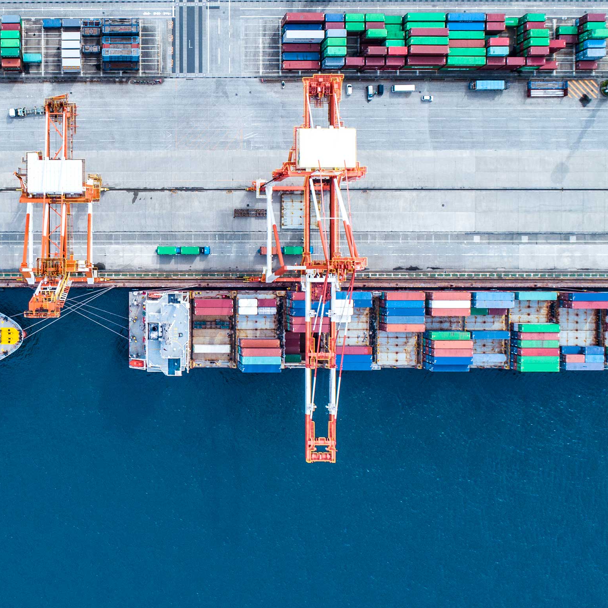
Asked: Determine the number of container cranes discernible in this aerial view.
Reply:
2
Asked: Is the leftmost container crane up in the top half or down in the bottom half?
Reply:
top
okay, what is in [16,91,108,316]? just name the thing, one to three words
container crane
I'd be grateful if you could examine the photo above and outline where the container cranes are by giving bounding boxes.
[244,74,368,464]
[16,91,108,316]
